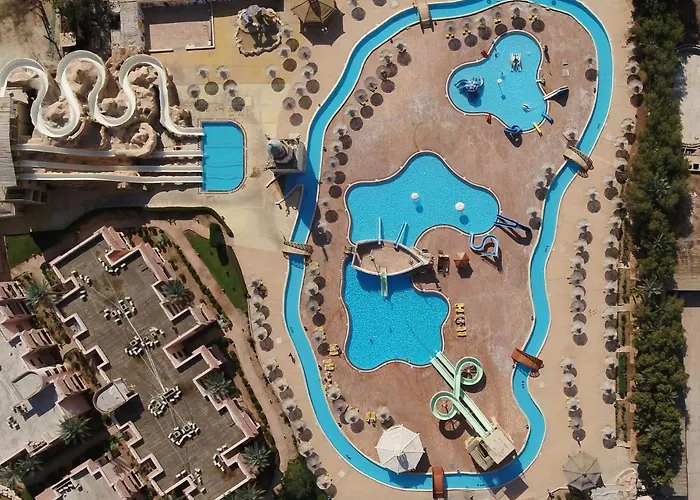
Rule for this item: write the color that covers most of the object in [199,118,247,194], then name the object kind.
blue swimming pool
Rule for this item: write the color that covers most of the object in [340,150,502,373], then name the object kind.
blue swimming pool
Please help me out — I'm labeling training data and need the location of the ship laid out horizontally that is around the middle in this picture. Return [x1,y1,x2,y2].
[345,240,434,276]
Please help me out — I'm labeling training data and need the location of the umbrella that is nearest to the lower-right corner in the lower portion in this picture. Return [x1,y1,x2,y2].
[601,425,615,438]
